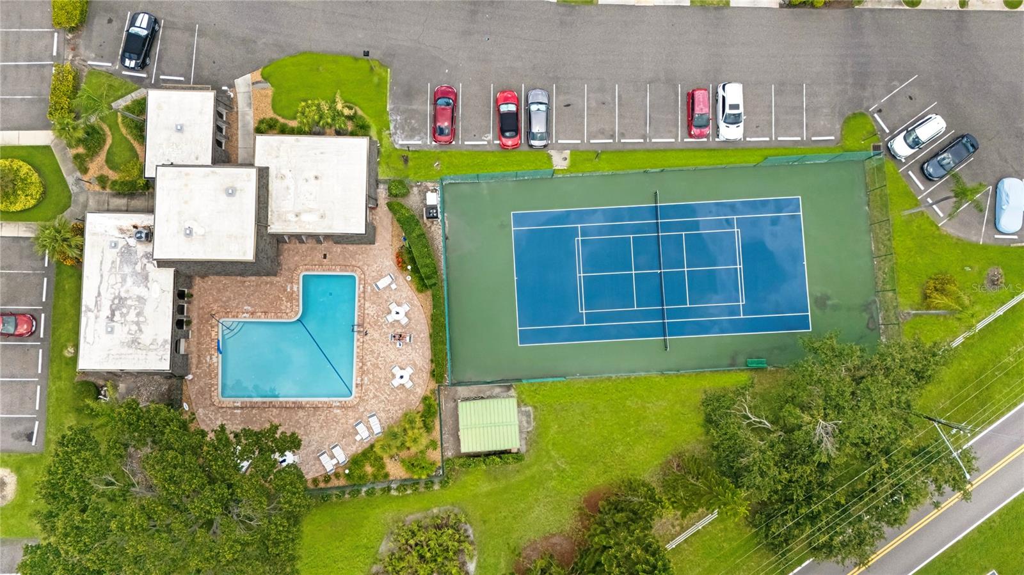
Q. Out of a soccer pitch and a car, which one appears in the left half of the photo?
car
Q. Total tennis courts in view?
1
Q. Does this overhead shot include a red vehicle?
Yes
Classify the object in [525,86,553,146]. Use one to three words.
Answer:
car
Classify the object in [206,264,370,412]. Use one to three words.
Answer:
swimming pool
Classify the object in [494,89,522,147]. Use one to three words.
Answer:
car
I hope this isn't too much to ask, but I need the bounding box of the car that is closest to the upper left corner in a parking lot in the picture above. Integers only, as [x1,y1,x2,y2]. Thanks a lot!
[115,9,153,68]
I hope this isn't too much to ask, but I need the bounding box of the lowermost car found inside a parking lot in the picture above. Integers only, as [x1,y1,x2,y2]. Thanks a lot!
[0,311,33,339]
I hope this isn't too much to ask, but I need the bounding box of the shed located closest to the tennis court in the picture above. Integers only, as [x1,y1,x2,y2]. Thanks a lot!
[458,398,520,453]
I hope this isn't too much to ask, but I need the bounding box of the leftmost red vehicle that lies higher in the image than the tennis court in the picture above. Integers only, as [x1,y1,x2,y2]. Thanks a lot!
[431,84,458,142]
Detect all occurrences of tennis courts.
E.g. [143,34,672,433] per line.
[442,160,882,384]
